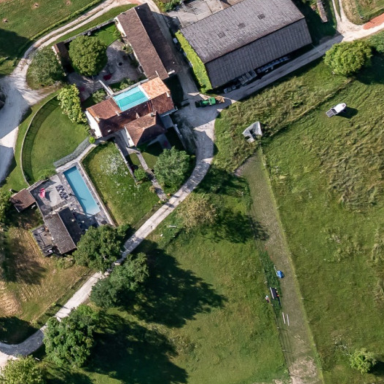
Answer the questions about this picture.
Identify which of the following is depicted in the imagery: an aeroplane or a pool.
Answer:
pool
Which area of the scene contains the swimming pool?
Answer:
left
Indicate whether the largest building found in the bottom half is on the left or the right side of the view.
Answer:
left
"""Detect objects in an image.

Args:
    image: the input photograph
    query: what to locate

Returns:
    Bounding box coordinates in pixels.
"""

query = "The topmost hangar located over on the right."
[178,0,312,89]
